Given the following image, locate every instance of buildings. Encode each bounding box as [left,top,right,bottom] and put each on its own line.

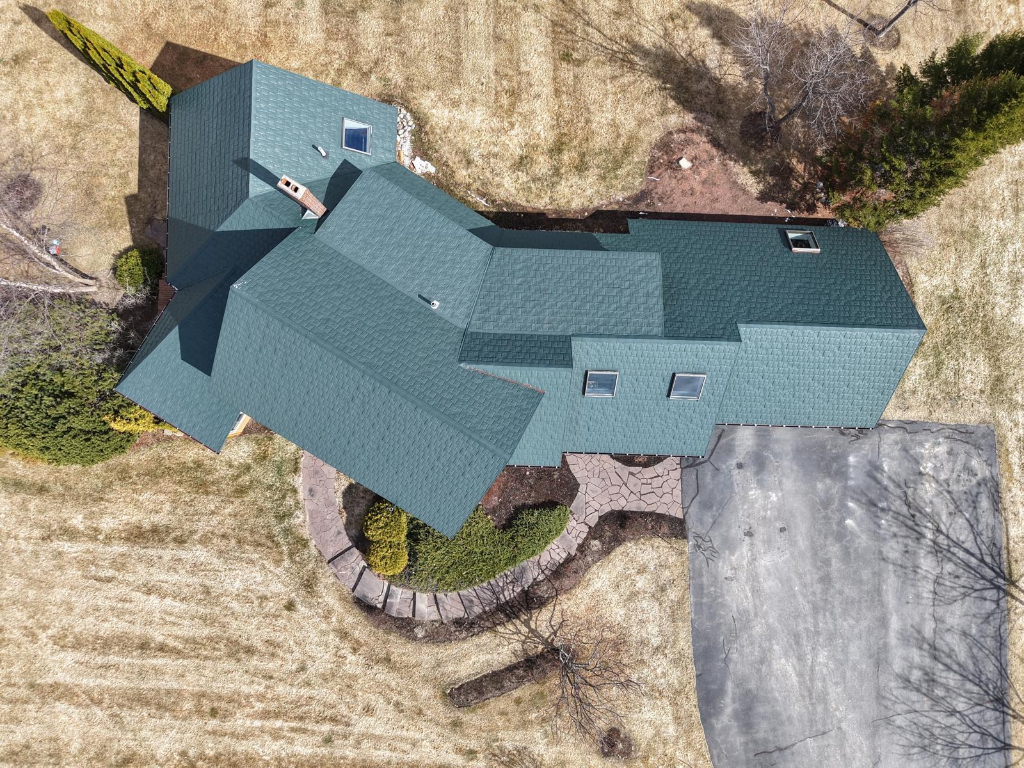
[116,59,926,536]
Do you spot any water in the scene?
No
